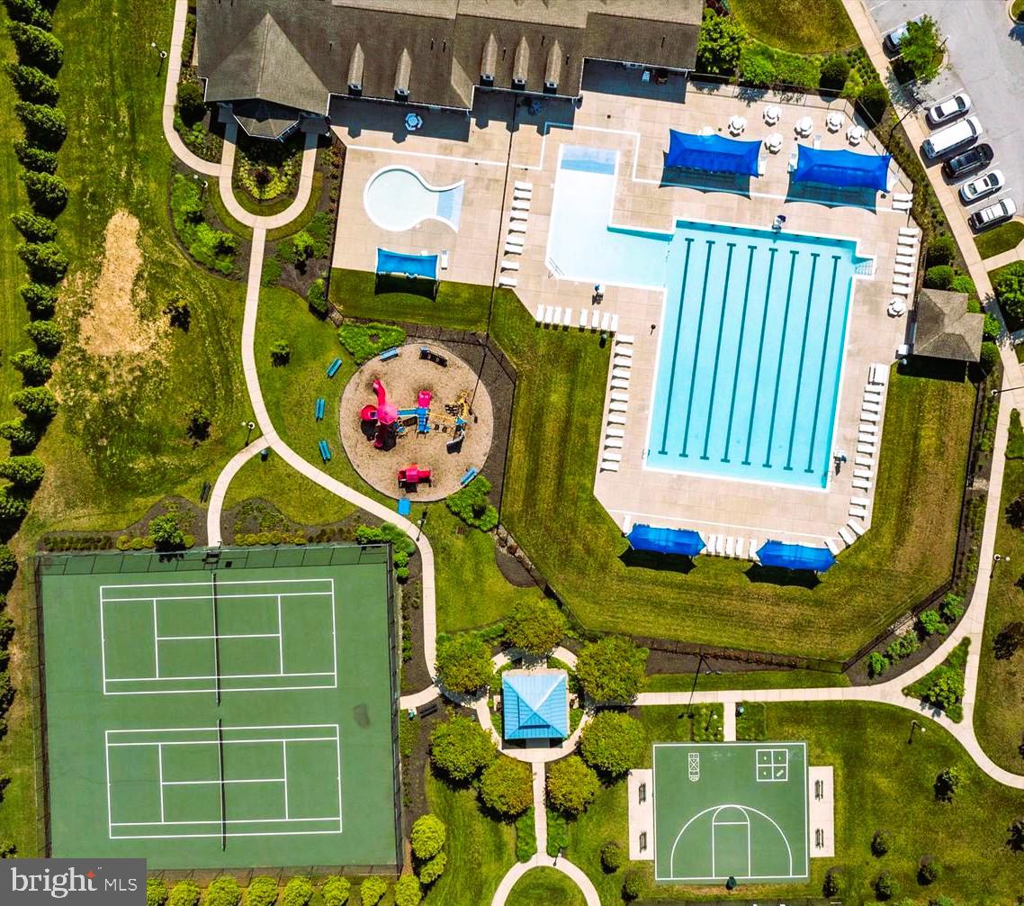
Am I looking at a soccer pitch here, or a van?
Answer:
van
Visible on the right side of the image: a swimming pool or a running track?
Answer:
swimming pool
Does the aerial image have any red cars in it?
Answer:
No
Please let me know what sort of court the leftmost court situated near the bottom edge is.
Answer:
tennis court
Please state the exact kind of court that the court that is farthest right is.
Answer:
basketball court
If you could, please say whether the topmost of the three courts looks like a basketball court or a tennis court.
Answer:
tennis court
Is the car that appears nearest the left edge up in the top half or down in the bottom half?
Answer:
top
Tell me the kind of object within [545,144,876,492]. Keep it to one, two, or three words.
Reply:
swimming pool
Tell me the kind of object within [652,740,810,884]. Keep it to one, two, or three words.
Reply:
basketball court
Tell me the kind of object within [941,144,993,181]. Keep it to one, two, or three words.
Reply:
car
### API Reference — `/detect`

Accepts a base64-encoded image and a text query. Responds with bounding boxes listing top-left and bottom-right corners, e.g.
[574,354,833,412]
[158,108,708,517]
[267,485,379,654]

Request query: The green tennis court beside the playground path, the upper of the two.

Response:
[38,544,395,711]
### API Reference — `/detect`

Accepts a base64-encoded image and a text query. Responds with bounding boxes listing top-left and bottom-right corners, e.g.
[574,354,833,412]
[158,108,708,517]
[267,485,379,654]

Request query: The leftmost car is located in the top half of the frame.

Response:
[874,21,918,55]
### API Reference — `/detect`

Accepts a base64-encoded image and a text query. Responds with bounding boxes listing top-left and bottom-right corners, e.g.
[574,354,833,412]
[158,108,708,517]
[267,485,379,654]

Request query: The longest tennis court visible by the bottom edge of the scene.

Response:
[45,704,398,871]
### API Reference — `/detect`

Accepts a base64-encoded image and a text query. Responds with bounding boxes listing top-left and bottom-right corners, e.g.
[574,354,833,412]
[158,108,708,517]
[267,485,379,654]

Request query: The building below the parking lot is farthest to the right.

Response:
[911,288,986,362]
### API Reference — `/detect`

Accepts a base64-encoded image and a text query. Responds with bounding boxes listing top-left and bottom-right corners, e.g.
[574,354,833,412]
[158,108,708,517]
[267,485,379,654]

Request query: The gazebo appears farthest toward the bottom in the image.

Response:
[502,672,569,739]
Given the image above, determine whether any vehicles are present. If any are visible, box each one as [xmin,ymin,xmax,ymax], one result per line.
[922,118,983,159]
[874,21,918,55]
[967,196,1017,231]
[925,93,971,127]
[941,144,993,181]
[957,169,1005,203]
